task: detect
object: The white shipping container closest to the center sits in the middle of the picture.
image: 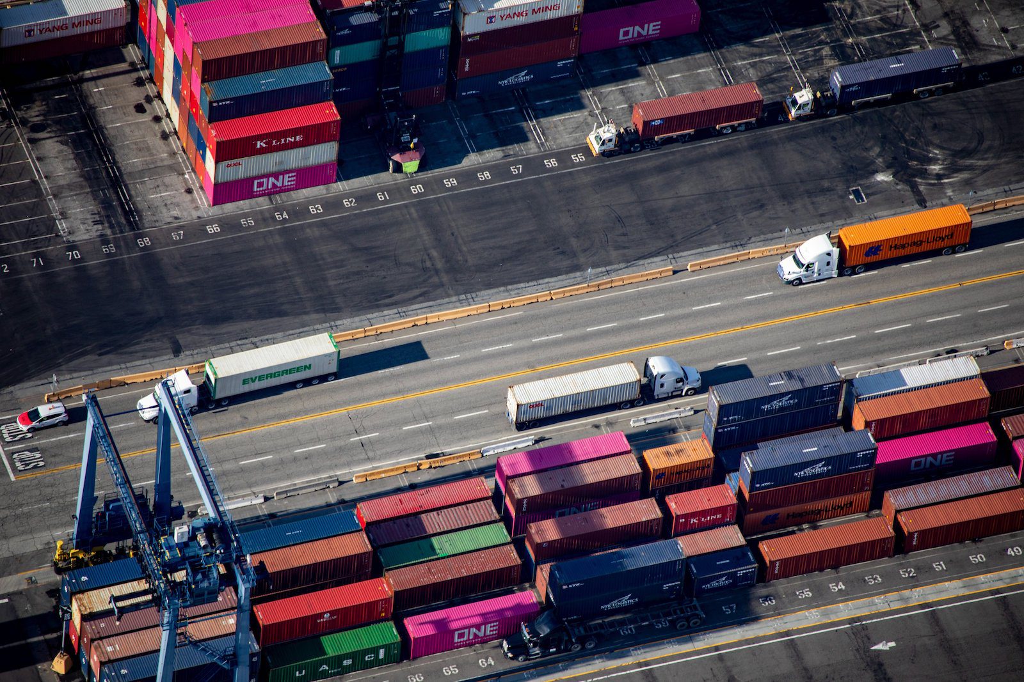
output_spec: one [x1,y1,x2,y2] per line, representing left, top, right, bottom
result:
[504,361,641,424]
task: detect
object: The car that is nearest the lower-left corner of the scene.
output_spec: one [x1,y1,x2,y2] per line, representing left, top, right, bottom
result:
[14,400,66,431]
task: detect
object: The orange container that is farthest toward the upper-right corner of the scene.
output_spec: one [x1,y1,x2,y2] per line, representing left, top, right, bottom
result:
[838,205,970,265]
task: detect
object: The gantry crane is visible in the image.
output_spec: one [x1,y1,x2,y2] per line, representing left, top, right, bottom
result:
[46,367,274,682]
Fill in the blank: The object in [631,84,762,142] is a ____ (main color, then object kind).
red shipping container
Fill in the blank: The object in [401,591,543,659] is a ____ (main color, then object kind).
pink shipping container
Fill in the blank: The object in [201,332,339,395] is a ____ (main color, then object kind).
white shipping container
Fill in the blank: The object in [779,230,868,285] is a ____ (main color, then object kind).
white truck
